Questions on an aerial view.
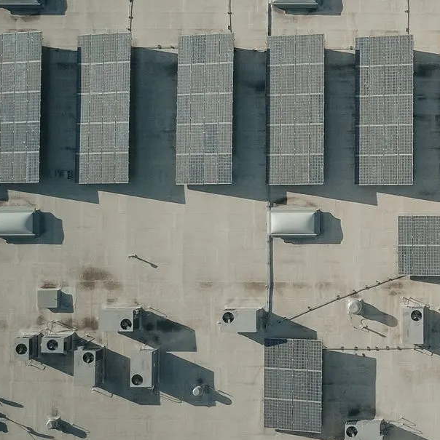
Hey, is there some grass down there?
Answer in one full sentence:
No, there's no grass in this view.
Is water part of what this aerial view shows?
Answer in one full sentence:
No, the scene doesn't show any water.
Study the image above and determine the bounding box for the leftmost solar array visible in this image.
[0,32,43,184]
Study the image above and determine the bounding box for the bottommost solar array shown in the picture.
[264,339,322,433]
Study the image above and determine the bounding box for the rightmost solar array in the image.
[398,216,440,276]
